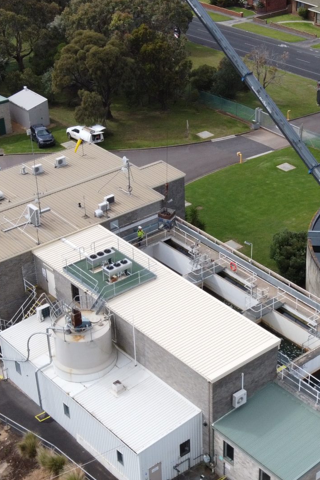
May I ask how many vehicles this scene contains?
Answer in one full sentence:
In total, there are 2 vehicles in the scene.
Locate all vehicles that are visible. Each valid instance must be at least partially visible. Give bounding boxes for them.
[60,118,115,142]
[28,118,48,146]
